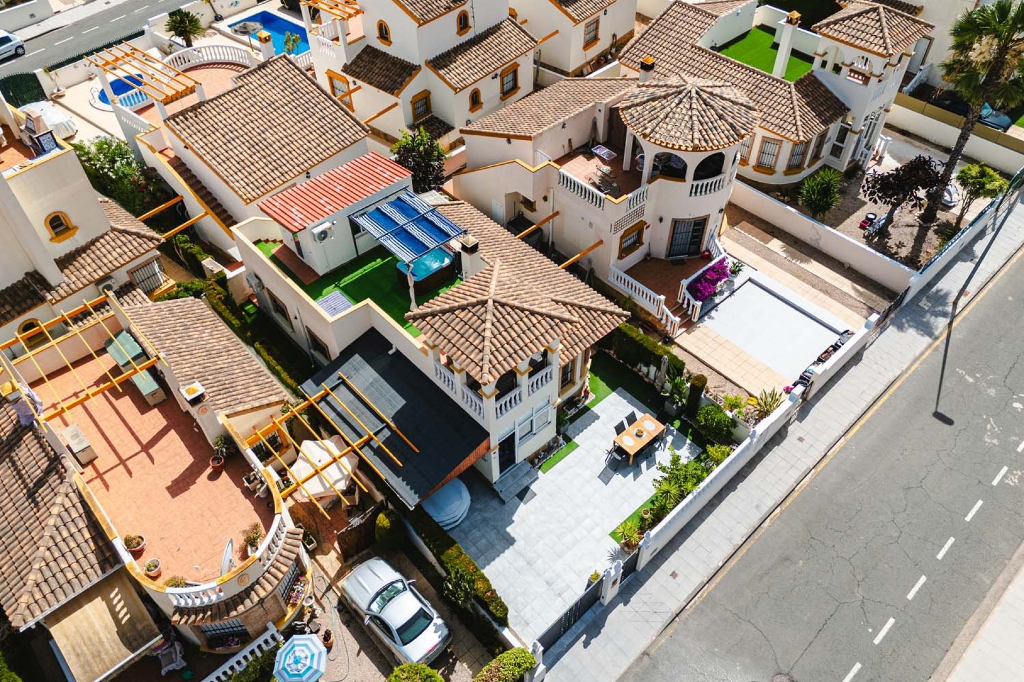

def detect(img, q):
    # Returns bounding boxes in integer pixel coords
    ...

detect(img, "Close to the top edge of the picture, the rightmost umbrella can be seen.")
[232,14,262,48]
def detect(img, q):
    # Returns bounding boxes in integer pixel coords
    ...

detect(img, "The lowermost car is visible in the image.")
[342,556,460,671]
